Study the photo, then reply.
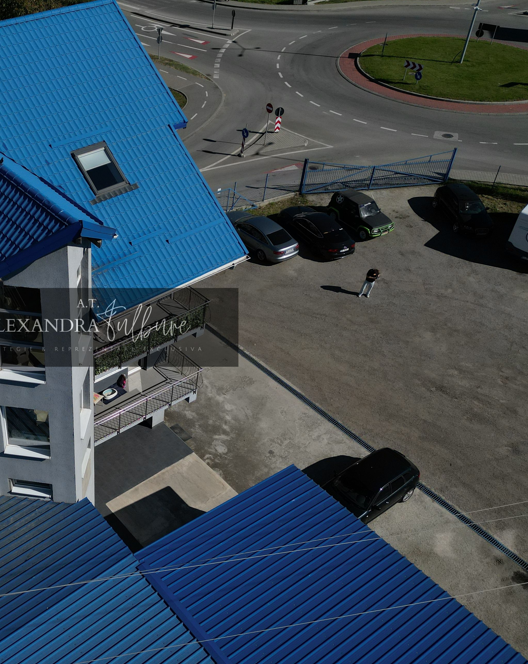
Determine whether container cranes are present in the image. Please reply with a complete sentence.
No, the frame has no container crane in it.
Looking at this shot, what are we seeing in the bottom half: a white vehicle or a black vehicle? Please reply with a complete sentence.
Visible in the bottom half is a black vehicle.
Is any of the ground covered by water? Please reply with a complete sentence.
No, there is no water in the image.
